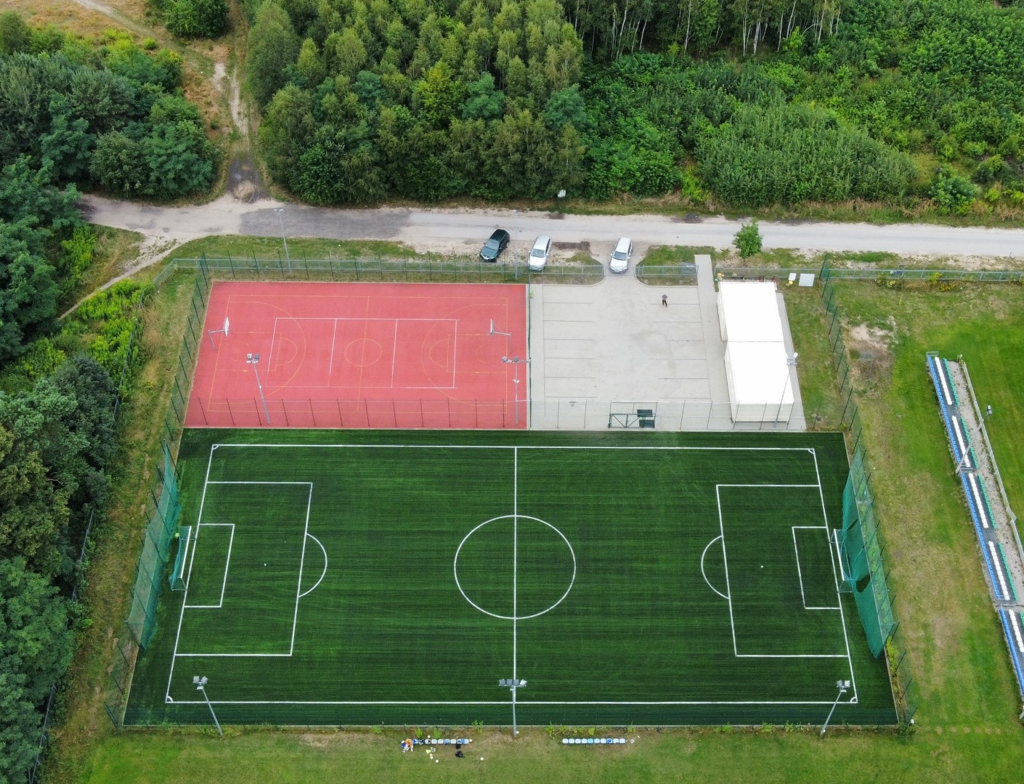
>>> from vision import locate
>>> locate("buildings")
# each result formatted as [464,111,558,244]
[718,282,793,421]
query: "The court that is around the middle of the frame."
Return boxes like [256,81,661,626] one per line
[182,281,806,431]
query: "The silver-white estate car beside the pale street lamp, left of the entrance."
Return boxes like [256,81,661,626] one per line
[528,231,554,270]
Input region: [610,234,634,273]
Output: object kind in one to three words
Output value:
car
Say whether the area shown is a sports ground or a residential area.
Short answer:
sports ground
